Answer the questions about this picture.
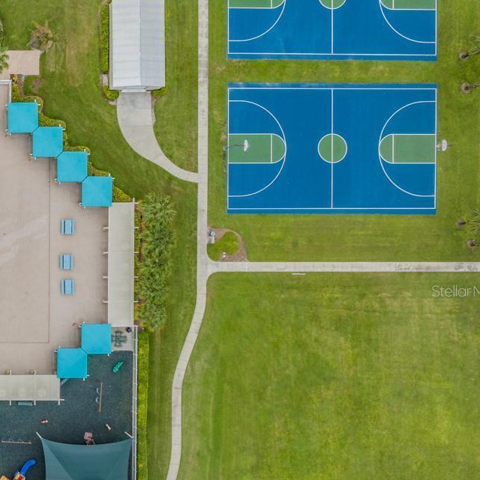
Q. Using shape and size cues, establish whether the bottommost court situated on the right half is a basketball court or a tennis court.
basketball court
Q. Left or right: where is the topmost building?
left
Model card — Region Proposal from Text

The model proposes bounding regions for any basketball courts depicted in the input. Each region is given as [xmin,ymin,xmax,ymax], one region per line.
[227,83,437,214]
[227,0,437,60]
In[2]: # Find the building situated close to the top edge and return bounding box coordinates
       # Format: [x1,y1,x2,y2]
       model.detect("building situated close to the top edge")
[110,0,169,94]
